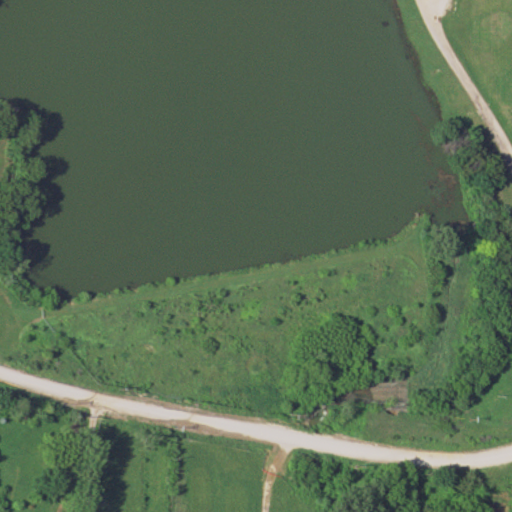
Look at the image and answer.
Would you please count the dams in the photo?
1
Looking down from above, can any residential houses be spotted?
No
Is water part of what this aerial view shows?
Yes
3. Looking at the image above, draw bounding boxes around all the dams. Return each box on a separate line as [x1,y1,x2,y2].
[45,234,408,330]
